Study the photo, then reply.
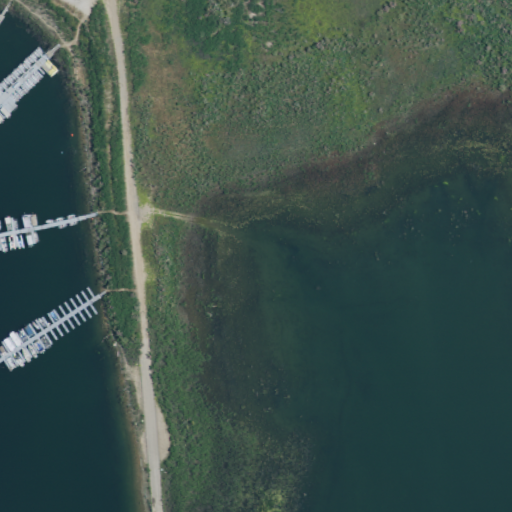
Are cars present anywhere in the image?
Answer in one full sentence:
No, no car can be seen from above.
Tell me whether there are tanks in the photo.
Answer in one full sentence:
No, there isn't any tank down there.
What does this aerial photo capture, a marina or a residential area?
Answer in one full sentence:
What you see here is a marina.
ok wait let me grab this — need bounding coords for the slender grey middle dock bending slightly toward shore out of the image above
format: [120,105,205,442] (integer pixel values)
[0,212,97,247]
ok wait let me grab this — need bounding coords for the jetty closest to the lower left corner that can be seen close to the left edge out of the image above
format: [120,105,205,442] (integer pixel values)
[0,288,108,364]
